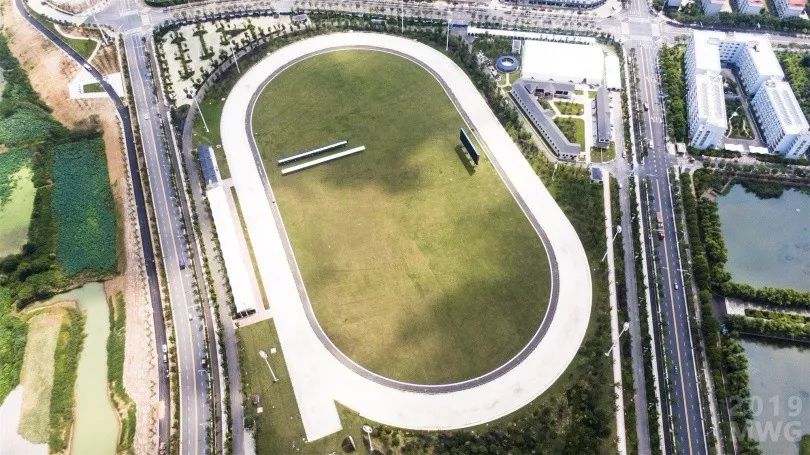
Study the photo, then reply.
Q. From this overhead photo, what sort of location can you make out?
sports ground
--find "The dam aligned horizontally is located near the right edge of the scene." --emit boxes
[713,295,810,333]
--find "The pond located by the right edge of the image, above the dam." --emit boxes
[717,184,810,293]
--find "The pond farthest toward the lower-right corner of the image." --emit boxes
[731,328,810,455]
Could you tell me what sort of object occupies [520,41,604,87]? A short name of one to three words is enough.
building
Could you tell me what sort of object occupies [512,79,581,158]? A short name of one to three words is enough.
building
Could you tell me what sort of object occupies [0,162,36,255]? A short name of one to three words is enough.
pond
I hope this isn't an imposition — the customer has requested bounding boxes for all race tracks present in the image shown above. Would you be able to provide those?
[211,28,603,442]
